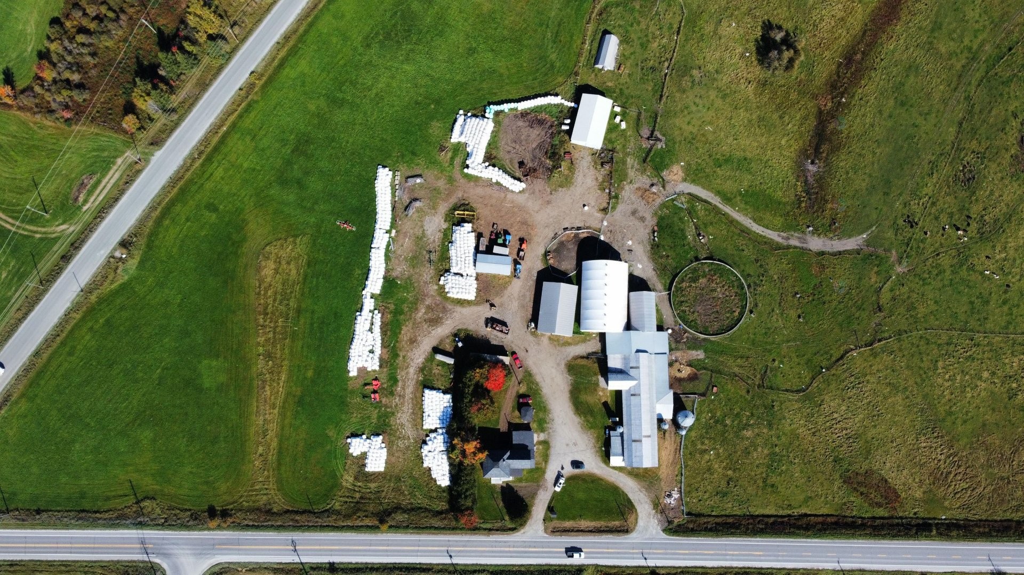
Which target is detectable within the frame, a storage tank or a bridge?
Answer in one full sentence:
The image shows a storage tank.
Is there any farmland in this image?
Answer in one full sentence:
Yes, there is farmland in the image.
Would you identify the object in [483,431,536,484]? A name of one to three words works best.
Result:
house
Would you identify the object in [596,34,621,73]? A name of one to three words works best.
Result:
shed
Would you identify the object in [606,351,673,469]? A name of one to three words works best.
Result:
barn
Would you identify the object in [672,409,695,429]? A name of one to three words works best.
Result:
silo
